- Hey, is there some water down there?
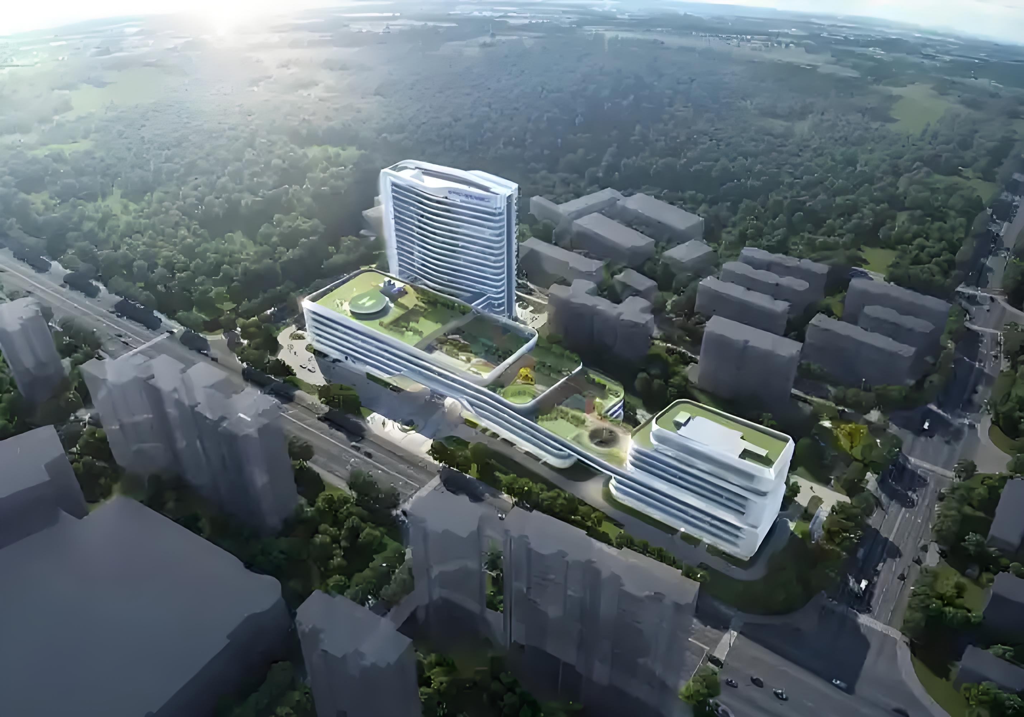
No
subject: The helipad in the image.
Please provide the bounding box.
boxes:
[348,291,386,313]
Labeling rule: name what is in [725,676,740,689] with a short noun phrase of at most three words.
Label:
vehicle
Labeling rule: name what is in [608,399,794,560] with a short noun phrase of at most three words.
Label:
building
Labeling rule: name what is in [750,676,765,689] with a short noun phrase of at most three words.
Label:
vehicle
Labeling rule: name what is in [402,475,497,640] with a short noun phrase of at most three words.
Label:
building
